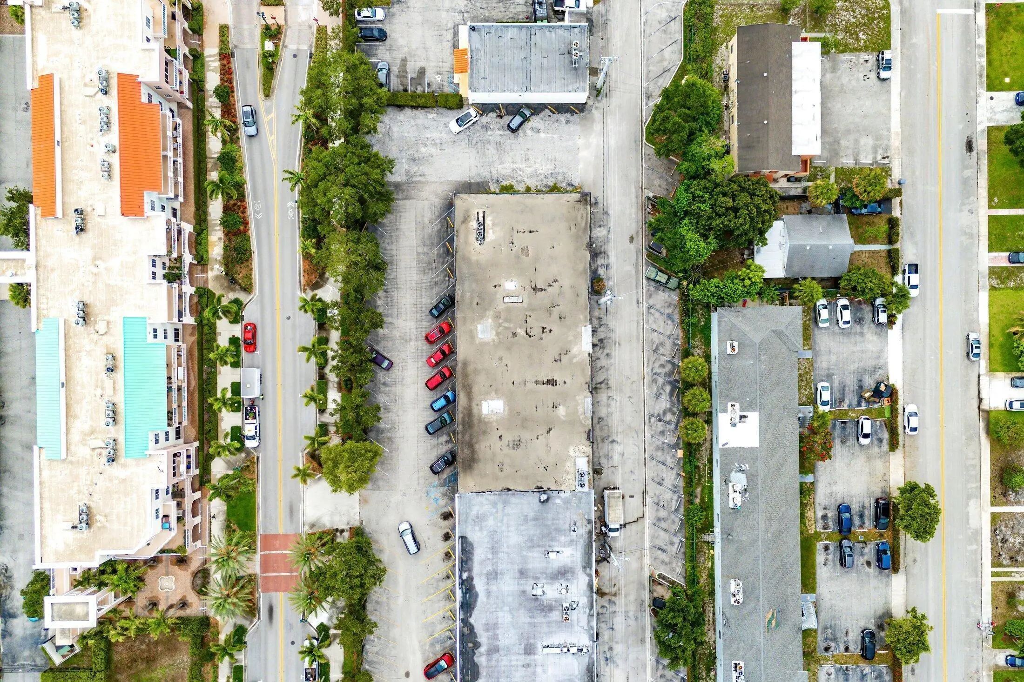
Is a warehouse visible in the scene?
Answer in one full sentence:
Yes, a warehouse is visible in the scene.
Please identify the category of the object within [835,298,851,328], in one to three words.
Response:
car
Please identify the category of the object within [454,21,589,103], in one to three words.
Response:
building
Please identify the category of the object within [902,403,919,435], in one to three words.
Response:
car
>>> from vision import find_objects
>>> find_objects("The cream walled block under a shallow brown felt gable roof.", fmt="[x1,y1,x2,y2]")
[727,22,822,187]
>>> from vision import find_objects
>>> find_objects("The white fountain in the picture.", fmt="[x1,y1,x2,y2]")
[158,576,174,592]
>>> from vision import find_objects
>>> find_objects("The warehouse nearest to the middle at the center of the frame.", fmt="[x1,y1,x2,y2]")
[454,192,592,493]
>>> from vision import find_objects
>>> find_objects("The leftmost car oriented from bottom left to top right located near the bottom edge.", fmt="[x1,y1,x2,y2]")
[425,652,453,680]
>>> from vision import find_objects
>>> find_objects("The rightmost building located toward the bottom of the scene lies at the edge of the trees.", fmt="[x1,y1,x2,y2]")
[709,305,817,682]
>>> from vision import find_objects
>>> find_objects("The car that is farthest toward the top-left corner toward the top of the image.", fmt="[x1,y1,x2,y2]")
[241,104,258,137]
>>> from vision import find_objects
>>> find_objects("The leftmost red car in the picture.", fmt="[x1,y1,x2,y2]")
[242,322,258,352]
